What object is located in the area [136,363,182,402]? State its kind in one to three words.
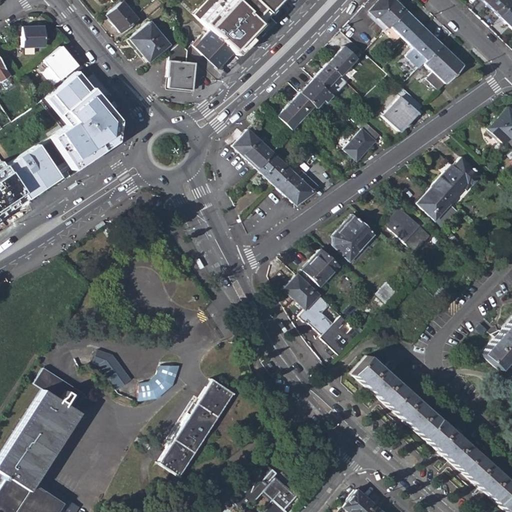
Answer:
building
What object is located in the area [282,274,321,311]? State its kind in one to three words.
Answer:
house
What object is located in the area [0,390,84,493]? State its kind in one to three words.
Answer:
building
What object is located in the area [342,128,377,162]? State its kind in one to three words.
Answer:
house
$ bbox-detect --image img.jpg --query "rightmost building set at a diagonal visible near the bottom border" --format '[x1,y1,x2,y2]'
[351,358,512,512]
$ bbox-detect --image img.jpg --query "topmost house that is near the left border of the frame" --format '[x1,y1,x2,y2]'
[21,24,48,55]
